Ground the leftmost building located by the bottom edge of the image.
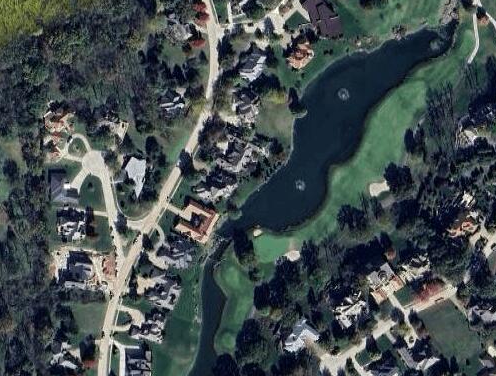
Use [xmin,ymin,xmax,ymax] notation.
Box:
[49,340,80,375]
